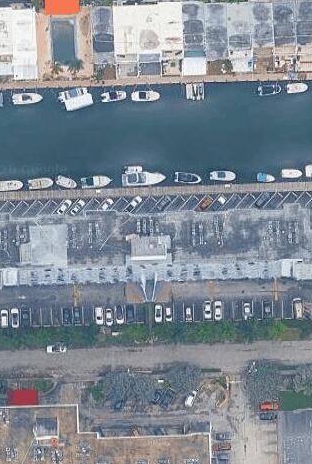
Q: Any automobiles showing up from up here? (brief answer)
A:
Yes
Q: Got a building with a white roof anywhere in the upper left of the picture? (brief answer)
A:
Yes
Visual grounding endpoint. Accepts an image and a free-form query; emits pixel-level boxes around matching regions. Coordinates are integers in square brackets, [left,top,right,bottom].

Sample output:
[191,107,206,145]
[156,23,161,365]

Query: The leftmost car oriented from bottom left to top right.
[55,198,73,216]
